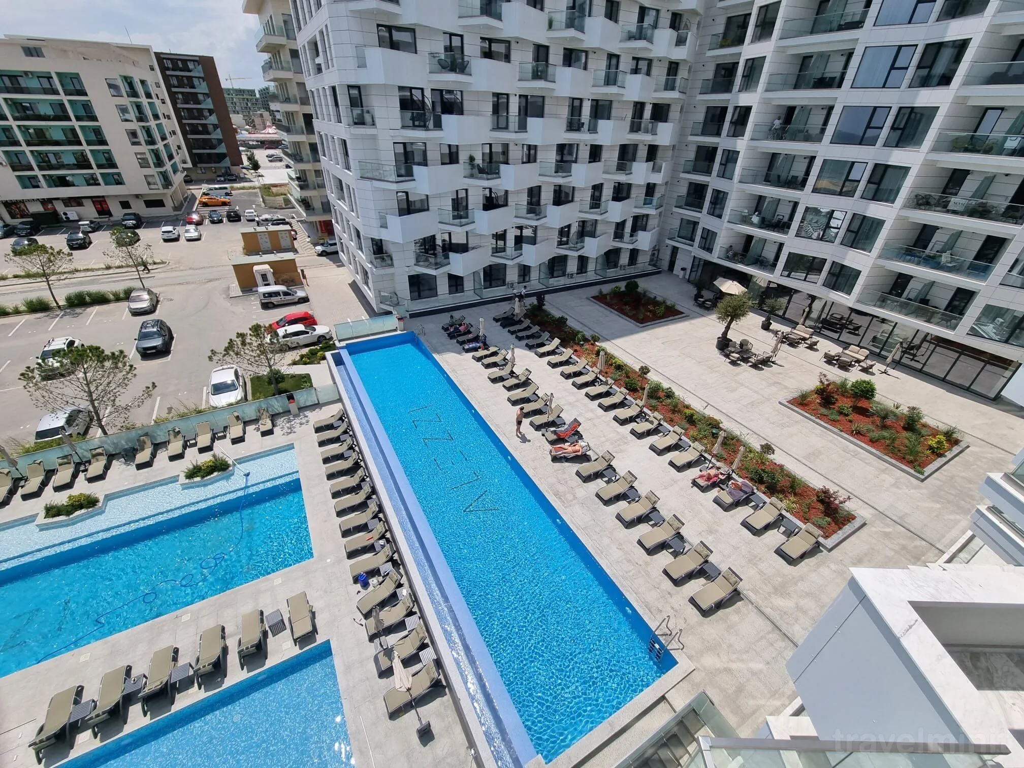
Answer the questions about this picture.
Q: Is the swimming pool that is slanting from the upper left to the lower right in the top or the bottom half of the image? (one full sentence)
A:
The swimming pool that is slanting from the upper left to the lower right is in the bottom half of the image.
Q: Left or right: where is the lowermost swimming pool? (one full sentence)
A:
The lowermost swimming pool is on the left side of the image.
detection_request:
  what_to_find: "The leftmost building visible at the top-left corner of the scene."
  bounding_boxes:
[0,5,195,224]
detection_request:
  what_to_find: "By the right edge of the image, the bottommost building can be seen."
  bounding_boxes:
[701,441,1024,768]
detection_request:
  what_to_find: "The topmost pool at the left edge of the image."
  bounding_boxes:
[0,449,316,685]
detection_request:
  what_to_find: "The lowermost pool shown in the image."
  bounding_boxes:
[105,654,355,768]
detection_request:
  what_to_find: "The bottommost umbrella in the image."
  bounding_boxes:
[411,694,433,742]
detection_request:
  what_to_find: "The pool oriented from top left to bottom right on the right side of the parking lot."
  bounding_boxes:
[347,333,675,764]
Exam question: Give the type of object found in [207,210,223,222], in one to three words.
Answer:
vehicle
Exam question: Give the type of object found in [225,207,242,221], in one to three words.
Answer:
car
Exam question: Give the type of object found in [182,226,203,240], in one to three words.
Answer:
car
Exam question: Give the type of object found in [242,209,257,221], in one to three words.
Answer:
vehicle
